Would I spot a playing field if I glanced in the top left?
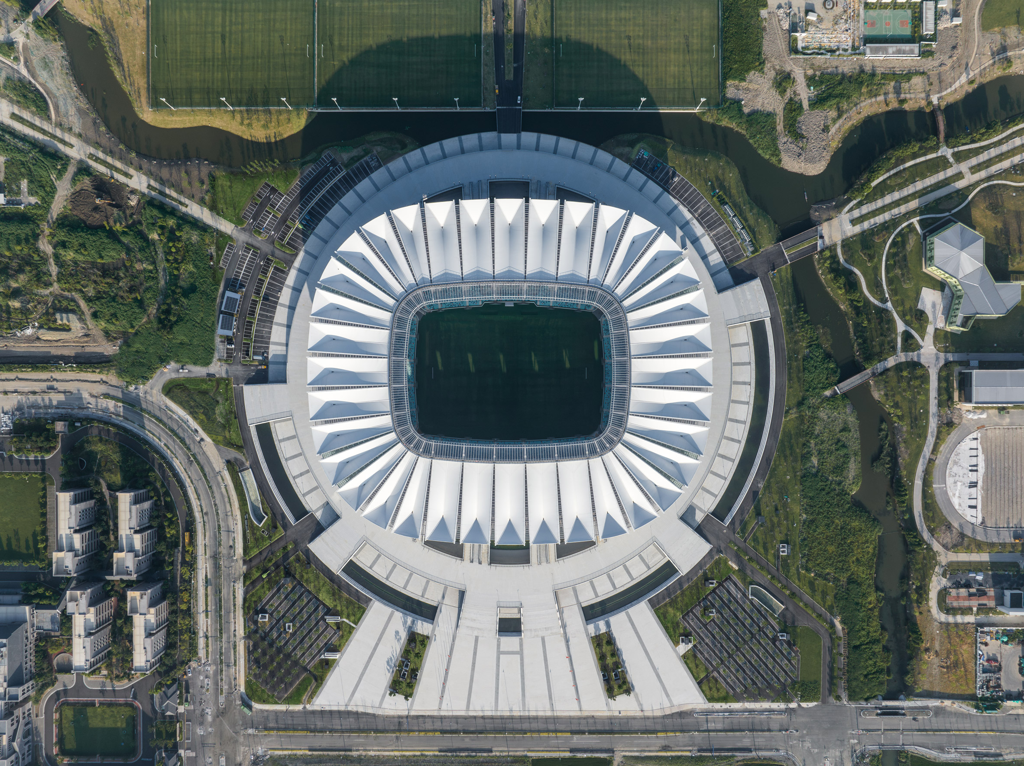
Yes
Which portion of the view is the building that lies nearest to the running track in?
right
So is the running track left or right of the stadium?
right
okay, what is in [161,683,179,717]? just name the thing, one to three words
building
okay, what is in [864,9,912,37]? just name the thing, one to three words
basketball court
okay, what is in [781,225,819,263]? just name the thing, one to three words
bridge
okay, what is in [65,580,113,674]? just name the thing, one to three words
building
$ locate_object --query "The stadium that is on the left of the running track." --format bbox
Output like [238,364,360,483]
[304,195,715,548]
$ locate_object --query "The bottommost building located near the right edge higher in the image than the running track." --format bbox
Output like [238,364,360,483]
[955,370,1024,405]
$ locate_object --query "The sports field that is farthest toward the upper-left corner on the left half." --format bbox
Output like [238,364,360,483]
[150,0,314,108]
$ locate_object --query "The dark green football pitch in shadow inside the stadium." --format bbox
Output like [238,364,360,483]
[415,303,604,440]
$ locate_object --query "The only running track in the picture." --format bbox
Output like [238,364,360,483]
[934,414,1024,544]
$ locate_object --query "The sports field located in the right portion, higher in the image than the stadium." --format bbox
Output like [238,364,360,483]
[554,0,721,108]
